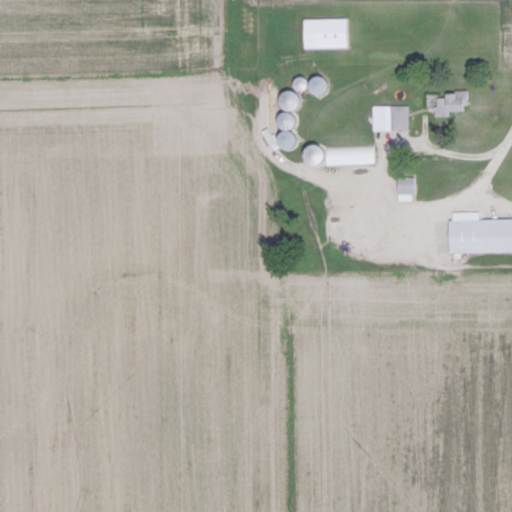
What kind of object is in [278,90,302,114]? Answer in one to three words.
silo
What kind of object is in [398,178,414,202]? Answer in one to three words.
shed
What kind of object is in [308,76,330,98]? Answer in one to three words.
silo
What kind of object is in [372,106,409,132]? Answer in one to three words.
building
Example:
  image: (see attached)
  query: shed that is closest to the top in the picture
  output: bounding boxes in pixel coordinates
[304,19,347,50]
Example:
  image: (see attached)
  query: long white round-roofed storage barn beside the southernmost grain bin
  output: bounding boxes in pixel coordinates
[326,148,375,166]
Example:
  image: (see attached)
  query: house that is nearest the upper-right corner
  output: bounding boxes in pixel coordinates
[426,90,472,118]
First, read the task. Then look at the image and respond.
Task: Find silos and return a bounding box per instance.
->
[277,130,300,153]
[276,112,298,132]
[308,76,330,98]
[302,144,326,168]
[292,76,308,94]
[278,90,302,114]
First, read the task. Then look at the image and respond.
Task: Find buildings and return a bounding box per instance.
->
[426,90,472,118]
[449,212,512,254]
[372,106,409,132]
[304,19,347,50]
[398,178,414,202]
[326,148,375,166]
